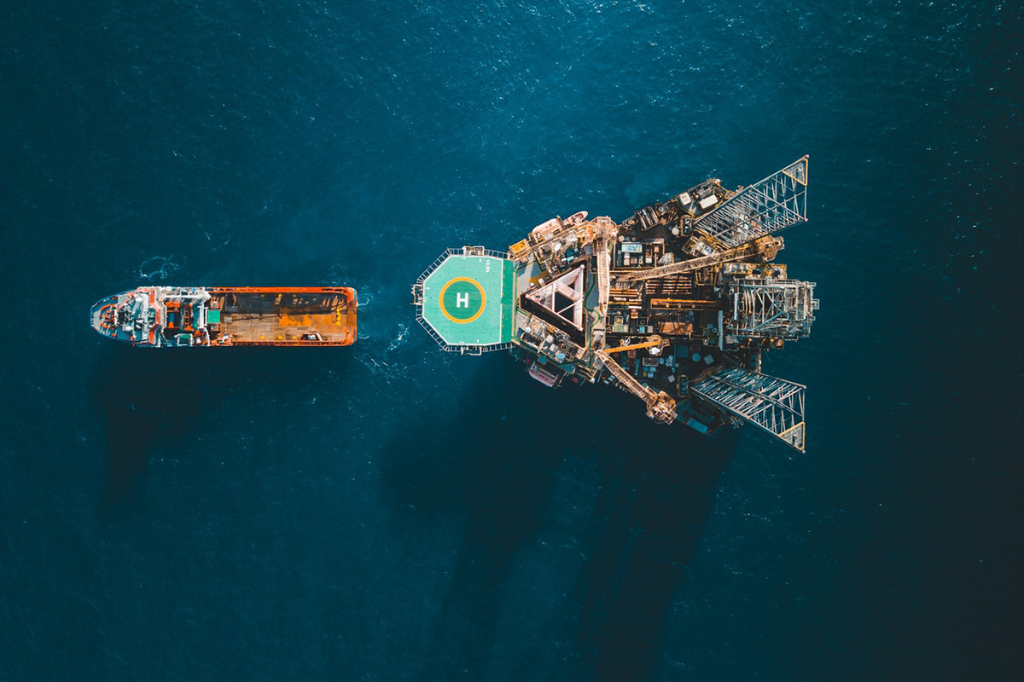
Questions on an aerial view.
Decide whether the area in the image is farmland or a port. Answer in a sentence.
This looks like a port.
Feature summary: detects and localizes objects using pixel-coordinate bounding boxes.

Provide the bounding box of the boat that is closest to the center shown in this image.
[530,370,555,386]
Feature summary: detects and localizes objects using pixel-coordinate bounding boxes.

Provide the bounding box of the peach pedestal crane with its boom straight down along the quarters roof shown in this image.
[593,214,613,321]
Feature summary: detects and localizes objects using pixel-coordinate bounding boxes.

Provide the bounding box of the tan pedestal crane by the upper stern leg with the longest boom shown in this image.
[617,235,783,285]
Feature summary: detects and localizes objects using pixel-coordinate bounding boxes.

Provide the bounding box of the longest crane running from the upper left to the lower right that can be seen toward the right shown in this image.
[593,348,681,424]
